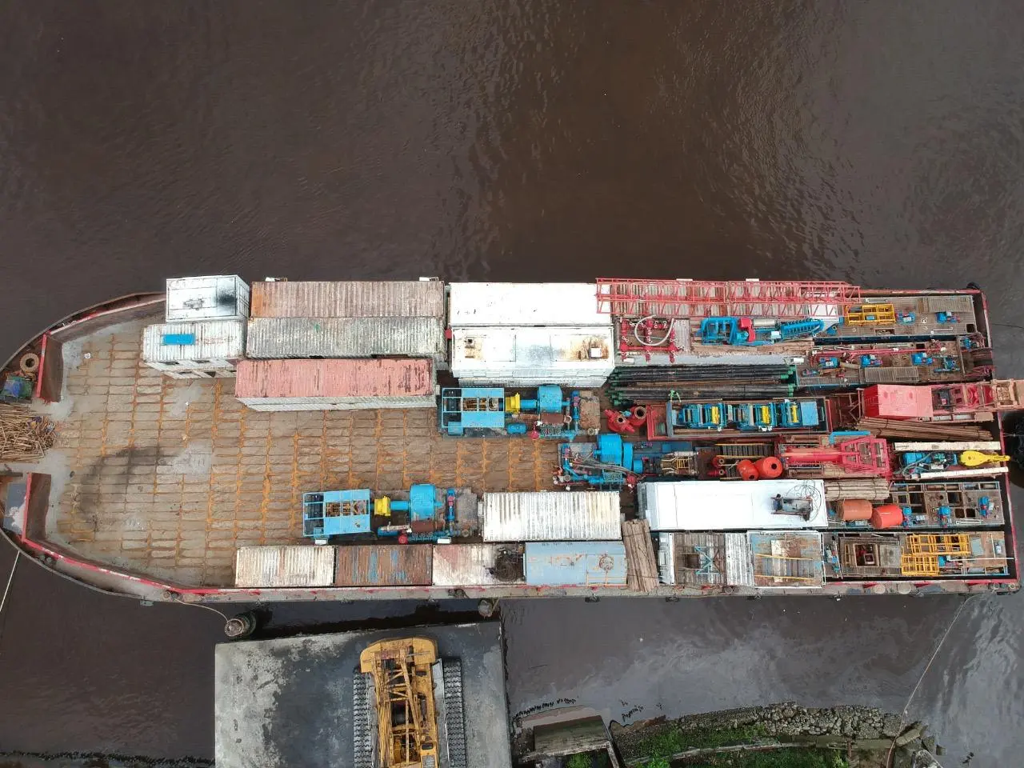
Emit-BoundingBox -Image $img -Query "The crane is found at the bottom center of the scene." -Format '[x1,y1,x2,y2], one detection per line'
[356,637,467,768]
